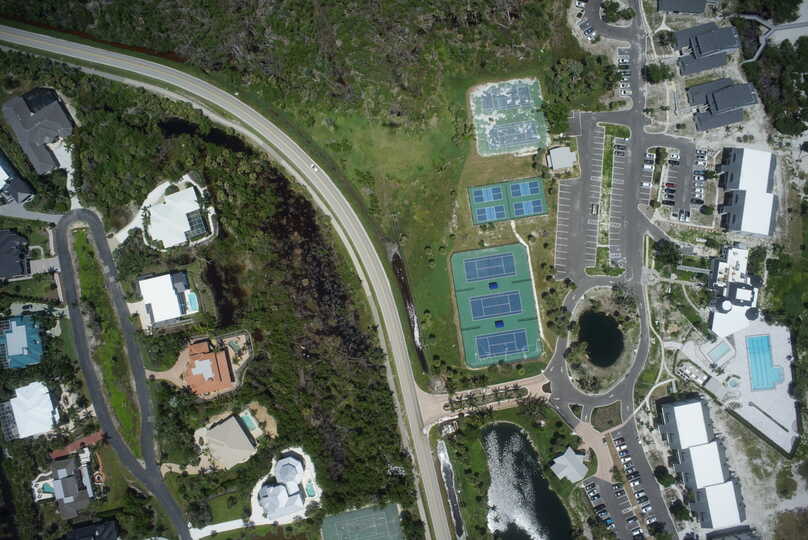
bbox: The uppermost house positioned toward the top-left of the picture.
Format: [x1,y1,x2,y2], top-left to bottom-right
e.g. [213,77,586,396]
[6,88,78,174]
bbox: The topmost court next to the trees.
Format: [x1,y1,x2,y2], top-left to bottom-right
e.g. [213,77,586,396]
[470,78,545,121]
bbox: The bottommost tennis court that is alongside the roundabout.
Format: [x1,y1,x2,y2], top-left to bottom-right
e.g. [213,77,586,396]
[462,318,544,368]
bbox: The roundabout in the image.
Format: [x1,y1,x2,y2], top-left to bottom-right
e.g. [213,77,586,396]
[542,282,649,432]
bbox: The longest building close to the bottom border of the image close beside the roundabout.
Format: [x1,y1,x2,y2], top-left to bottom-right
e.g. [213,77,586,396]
[652,395,746,529]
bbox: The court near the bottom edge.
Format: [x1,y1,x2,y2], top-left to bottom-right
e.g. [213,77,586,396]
[324,504,402,540]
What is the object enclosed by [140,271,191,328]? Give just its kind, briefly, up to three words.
house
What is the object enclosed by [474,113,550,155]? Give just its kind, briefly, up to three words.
tennis court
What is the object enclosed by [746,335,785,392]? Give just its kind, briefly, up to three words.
swimming pool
